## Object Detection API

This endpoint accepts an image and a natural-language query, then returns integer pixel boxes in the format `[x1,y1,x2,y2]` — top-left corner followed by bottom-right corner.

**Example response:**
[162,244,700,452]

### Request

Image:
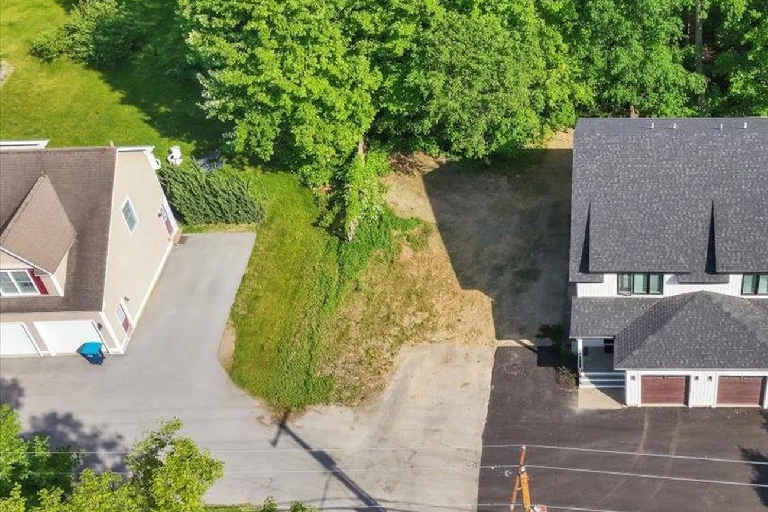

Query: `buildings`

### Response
[0,139,193,358]
[569,115,768,411]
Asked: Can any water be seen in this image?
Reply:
No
